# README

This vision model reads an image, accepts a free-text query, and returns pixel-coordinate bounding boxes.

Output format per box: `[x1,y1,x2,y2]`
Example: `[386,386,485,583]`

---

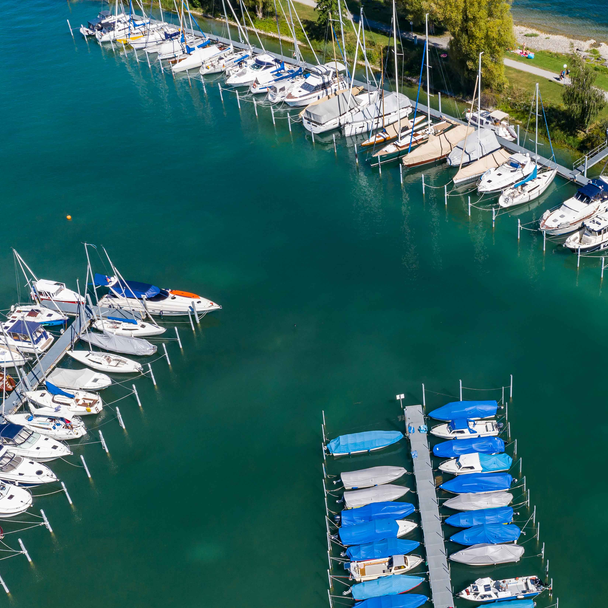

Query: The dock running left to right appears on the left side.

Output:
[36,303,97,319]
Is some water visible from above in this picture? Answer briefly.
Yes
